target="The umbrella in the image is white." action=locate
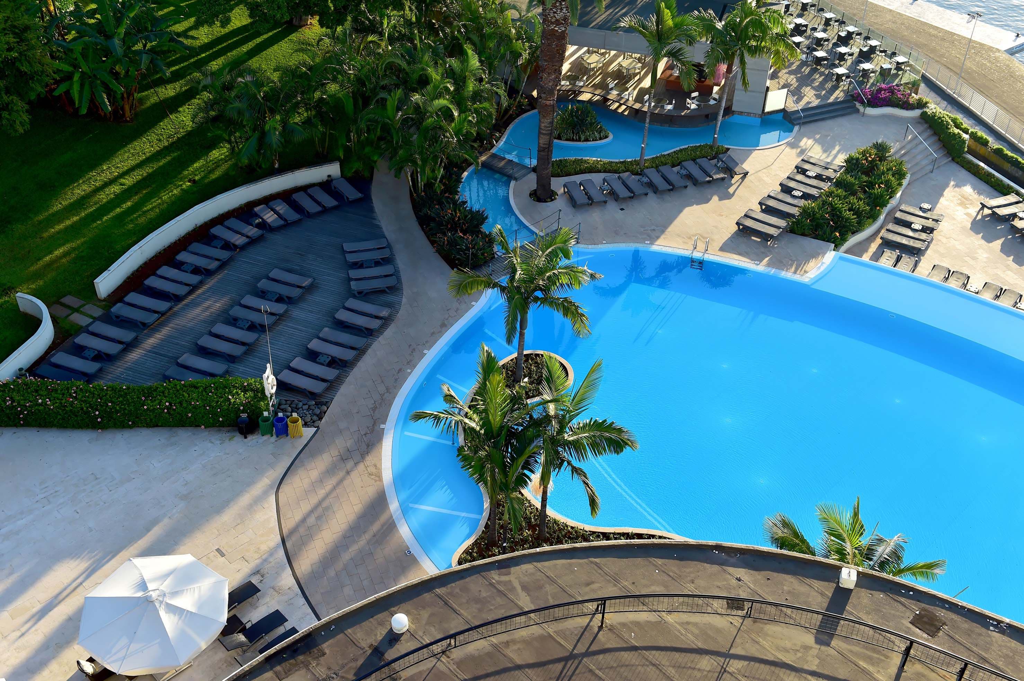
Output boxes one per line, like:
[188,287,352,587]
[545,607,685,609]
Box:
[76,552,230,678]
